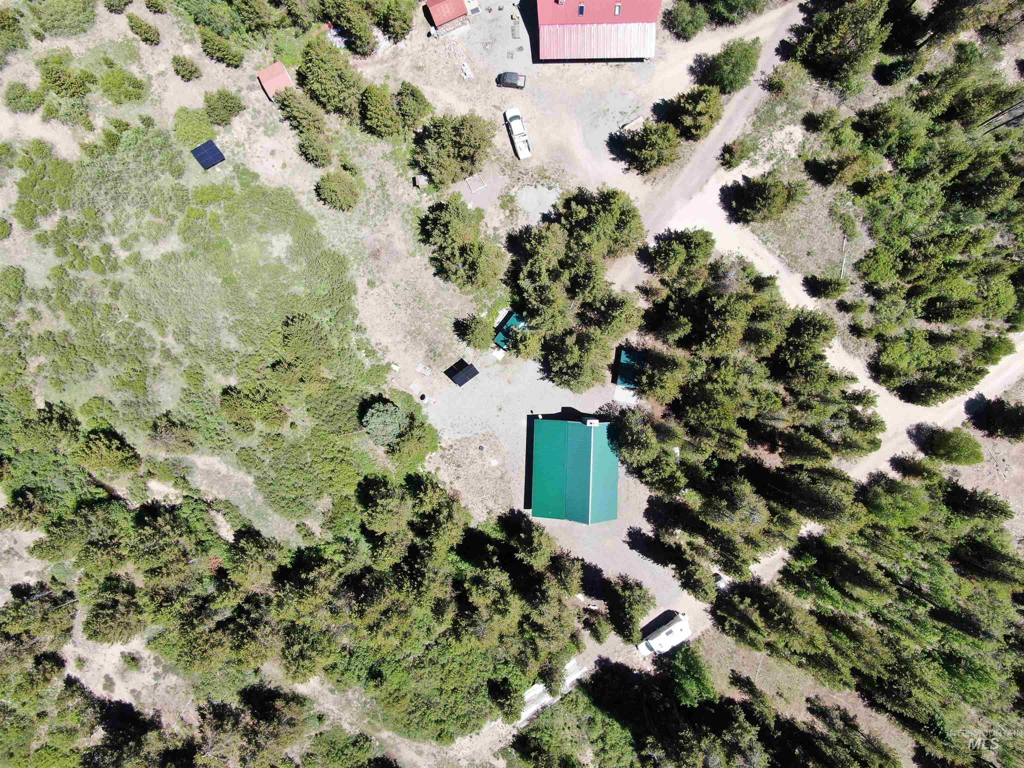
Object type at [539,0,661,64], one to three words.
house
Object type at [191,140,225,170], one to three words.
solar array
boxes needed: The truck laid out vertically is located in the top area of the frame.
[507,108,532,162]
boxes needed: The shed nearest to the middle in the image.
[494,314,523,358]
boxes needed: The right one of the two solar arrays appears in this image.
[452,363,479,387]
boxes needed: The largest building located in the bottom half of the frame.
[532,416,619,527]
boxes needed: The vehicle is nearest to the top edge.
[495,72,526,91]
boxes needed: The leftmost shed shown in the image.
[253,54,298,103]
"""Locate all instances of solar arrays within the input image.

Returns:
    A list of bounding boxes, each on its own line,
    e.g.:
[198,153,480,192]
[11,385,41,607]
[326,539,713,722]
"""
[191,140,225,170]
[452,363,479,387]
